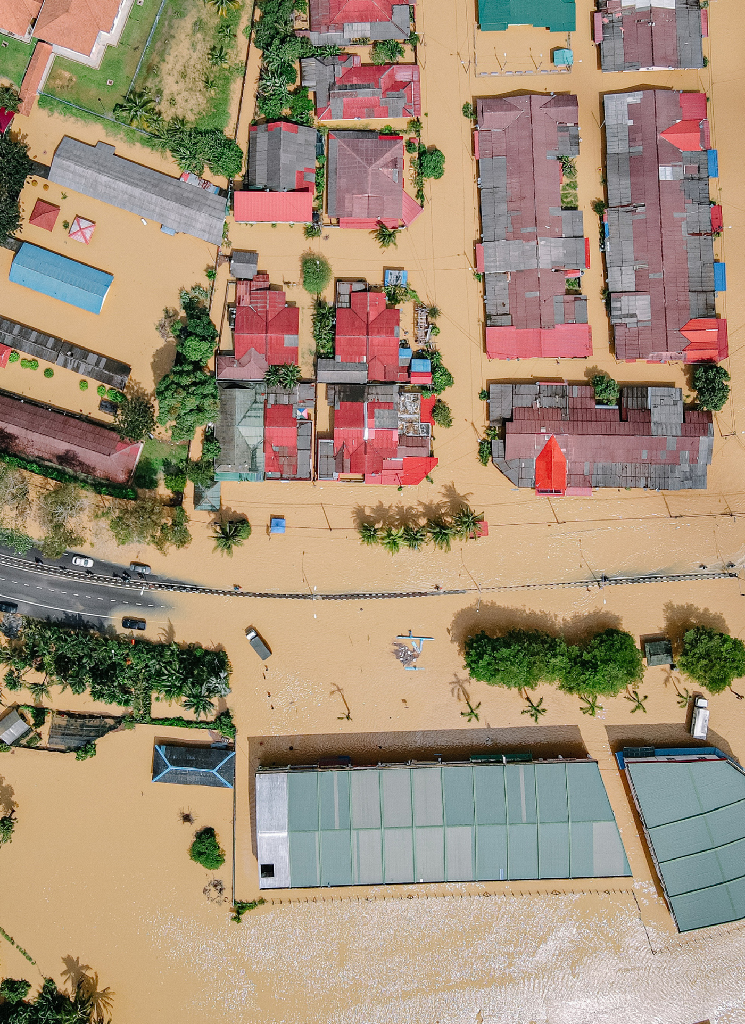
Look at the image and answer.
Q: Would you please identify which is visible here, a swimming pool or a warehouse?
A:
warehouse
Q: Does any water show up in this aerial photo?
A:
Yes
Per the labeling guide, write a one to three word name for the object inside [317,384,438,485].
house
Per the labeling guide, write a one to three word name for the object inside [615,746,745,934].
warehouse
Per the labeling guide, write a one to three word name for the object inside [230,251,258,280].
shed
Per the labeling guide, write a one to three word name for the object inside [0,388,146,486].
building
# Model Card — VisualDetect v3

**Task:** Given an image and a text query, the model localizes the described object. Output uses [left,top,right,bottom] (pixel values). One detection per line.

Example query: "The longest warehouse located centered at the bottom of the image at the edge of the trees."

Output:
[255,749,633,890]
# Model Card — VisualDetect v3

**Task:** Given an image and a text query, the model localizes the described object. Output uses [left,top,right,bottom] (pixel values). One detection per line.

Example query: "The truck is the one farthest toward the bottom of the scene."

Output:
[689,694,710,742]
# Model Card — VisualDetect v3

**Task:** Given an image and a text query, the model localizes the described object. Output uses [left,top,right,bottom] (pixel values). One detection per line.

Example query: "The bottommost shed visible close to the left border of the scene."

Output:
[0,707,31,744]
